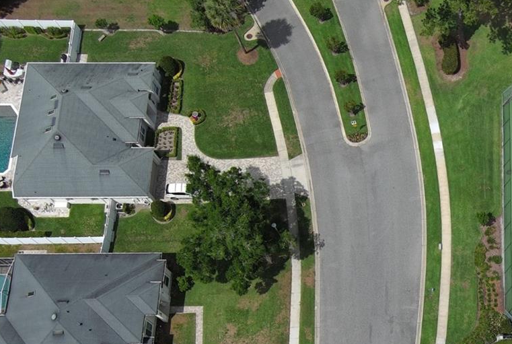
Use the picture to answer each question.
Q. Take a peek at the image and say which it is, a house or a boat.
house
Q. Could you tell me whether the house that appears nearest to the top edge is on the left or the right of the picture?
left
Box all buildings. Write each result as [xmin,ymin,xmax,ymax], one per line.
[0,251,176,344]
[11,61,164,205]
